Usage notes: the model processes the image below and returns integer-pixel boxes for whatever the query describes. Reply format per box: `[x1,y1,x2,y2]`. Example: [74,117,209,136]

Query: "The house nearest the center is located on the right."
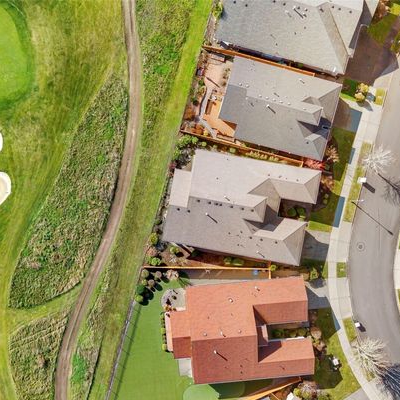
[162,149,321,266]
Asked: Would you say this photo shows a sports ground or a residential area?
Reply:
residential area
